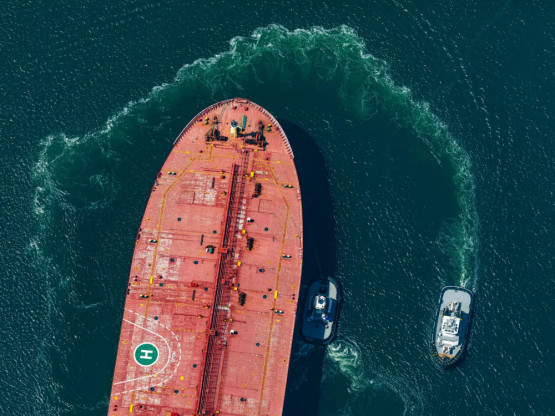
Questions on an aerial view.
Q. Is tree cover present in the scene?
No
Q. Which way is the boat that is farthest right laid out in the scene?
vertically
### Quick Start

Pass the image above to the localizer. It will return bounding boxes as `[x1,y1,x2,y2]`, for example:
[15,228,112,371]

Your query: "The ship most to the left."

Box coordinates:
[107,96,303,416]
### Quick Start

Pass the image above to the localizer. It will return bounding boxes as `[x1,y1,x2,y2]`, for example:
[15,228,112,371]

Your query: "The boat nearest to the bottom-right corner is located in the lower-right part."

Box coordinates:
[432,284,474,369]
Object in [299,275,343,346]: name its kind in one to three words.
boat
